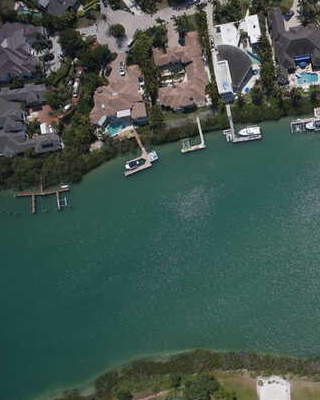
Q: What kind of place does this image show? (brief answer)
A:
residential area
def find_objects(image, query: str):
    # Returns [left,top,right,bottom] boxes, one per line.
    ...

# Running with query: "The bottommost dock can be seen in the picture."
[16,171,72,214]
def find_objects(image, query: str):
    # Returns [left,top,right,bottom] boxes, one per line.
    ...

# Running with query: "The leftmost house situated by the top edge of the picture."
[0,17,54,89]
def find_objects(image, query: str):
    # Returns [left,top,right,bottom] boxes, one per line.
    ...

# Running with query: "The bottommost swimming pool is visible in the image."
[107,121,125,135]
